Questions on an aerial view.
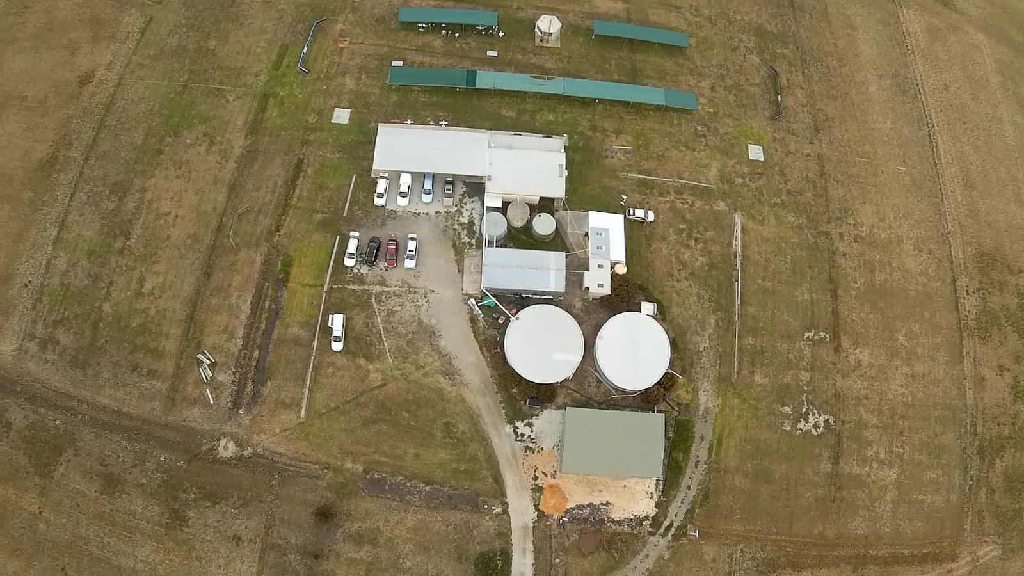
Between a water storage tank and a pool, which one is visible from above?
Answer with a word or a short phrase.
water storage tank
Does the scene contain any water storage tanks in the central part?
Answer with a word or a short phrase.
Yes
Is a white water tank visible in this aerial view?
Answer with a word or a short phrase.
Yes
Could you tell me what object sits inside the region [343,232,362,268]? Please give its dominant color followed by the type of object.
white car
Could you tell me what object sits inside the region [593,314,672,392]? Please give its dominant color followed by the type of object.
white water tank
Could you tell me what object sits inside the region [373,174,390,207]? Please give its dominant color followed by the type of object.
white car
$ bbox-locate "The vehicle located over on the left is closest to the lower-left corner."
[324,312,346,352]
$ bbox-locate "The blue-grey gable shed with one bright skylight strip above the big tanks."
[483,248,566,296]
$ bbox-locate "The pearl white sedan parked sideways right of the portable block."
[626,208,655,224]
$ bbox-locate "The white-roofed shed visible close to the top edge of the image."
[537,15,561,43]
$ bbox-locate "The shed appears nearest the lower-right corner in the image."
[560,405,665,480]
